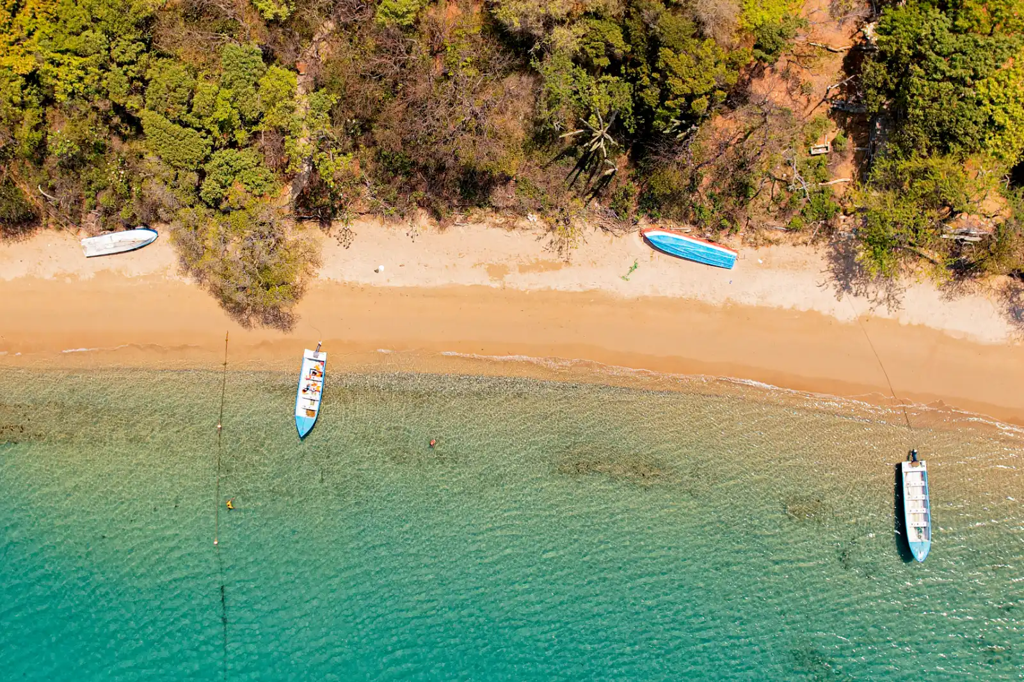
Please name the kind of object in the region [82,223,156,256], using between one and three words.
boat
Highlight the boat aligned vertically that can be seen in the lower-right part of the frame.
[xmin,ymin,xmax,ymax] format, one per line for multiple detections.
[901,448,933,564]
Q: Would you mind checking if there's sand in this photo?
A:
Yes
